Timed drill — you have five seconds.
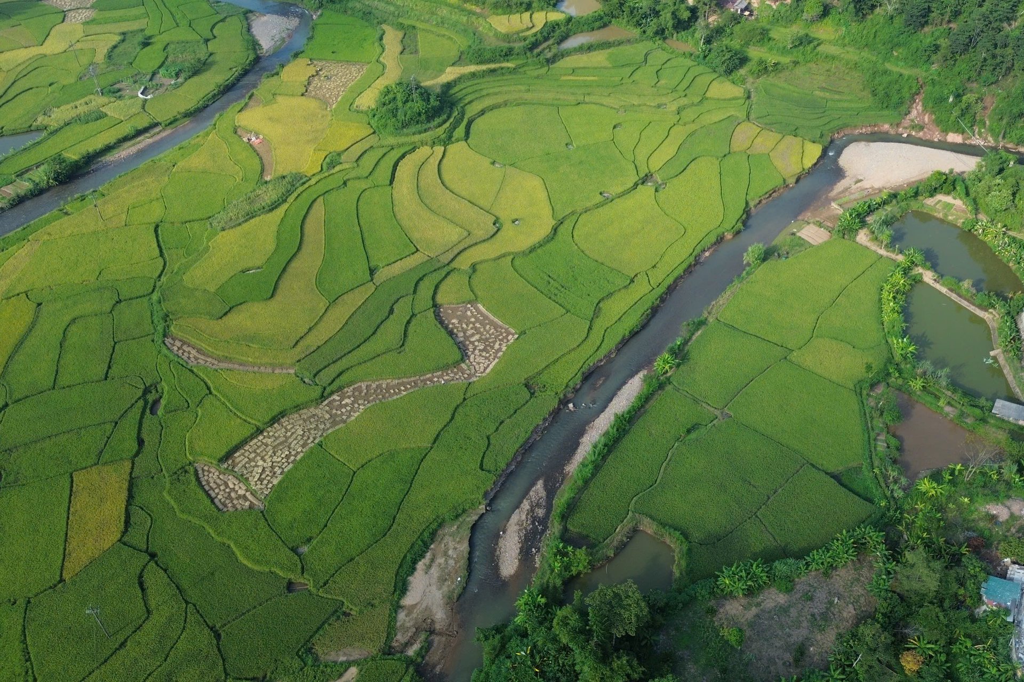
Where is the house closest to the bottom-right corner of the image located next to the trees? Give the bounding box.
[980,575,1024,613]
